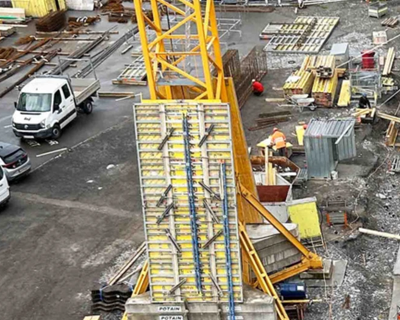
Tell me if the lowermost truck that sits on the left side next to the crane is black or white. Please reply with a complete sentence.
The lowermost truck that sits on the left side next to the crane looks white in the image.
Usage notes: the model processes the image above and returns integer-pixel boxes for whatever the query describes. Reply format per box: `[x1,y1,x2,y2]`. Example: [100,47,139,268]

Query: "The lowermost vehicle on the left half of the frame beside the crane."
[17,67,103,133]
